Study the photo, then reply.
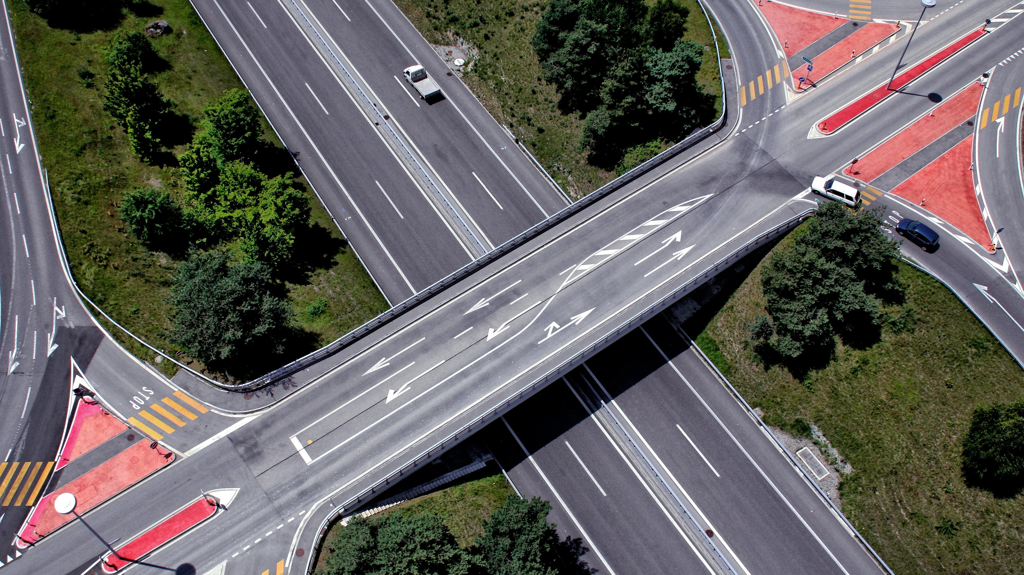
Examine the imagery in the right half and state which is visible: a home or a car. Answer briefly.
car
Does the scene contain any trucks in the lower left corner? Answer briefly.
No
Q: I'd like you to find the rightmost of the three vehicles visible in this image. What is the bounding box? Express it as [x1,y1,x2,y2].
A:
[896,218,944,254]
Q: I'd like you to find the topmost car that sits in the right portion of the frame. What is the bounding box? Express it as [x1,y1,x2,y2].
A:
[809,176,859,206]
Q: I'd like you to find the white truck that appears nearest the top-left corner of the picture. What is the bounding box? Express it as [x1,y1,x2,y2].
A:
[403,65,441,101]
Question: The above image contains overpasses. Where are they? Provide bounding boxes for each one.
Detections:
[169,58,849,575]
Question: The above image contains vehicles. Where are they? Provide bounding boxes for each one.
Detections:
[403,65,441,101]
[809,176,859,206]
[896,218,944,254]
